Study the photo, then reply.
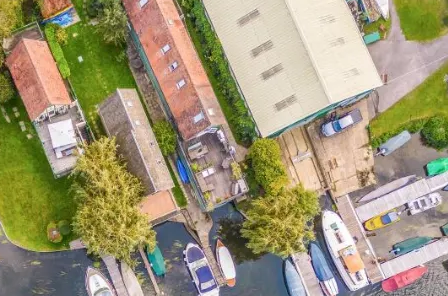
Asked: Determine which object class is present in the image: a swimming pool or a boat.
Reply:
boat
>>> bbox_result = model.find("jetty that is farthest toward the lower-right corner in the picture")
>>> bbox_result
[380,234,448,279]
